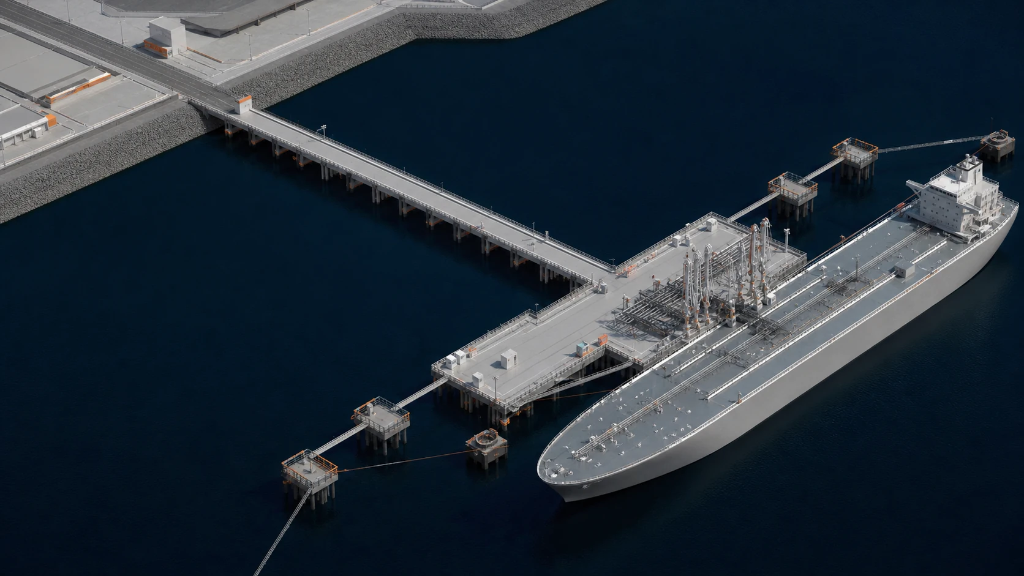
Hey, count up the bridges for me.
1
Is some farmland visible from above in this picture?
No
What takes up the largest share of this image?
water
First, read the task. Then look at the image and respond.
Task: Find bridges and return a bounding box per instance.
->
[178,85,616,295]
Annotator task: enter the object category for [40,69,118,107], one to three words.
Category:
shed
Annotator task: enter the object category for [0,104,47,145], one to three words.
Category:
building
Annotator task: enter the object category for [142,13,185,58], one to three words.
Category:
building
